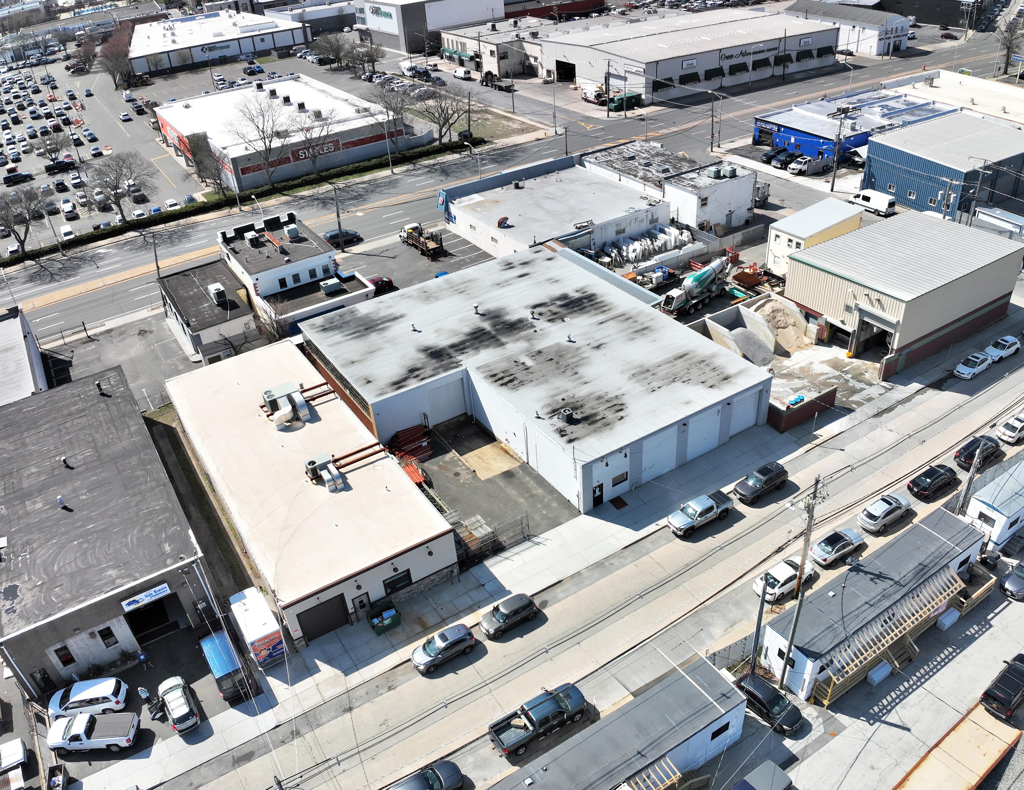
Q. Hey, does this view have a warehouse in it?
Yes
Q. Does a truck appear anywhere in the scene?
Yes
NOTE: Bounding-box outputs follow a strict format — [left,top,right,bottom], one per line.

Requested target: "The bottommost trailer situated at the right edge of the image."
[870,699,1019,790]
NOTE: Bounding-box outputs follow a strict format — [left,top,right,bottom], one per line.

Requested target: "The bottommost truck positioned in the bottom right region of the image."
[738,764,798,790]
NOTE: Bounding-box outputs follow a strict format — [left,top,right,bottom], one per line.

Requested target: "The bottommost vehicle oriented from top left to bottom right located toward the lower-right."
[737,671,819,742]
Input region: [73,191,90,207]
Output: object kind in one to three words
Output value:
car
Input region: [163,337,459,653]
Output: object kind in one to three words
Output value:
building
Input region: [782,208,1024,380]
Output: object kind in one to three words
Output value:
building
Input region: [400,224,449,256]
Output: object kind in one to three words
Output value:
truck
